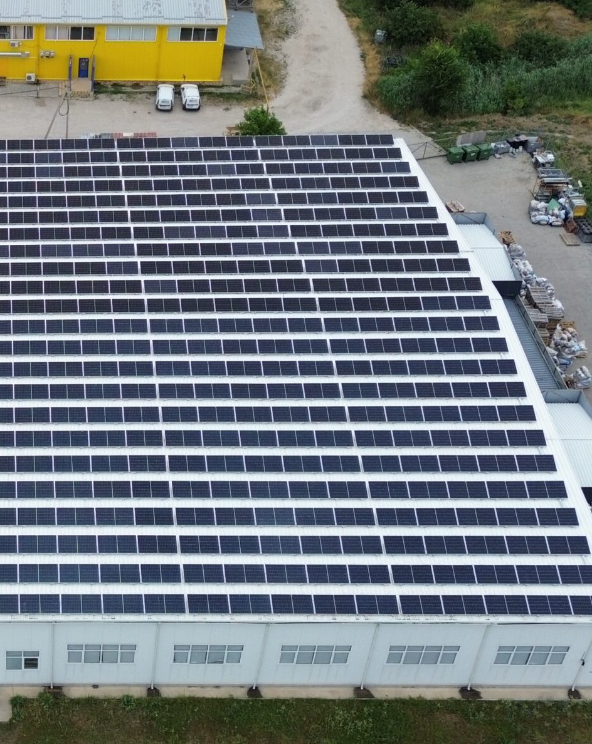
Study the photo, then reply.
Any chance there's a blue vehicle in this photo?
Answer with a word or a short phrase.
No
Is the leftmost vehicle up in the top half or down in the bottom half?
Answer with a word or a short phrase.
top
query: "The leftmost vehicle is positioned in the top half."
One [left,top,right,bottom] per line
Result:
[154,81,177,108]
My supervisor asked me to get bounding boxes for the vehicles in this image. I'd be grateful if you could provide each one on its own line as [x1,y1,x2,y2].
[178,81,202,108]
[154,81,177,108]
